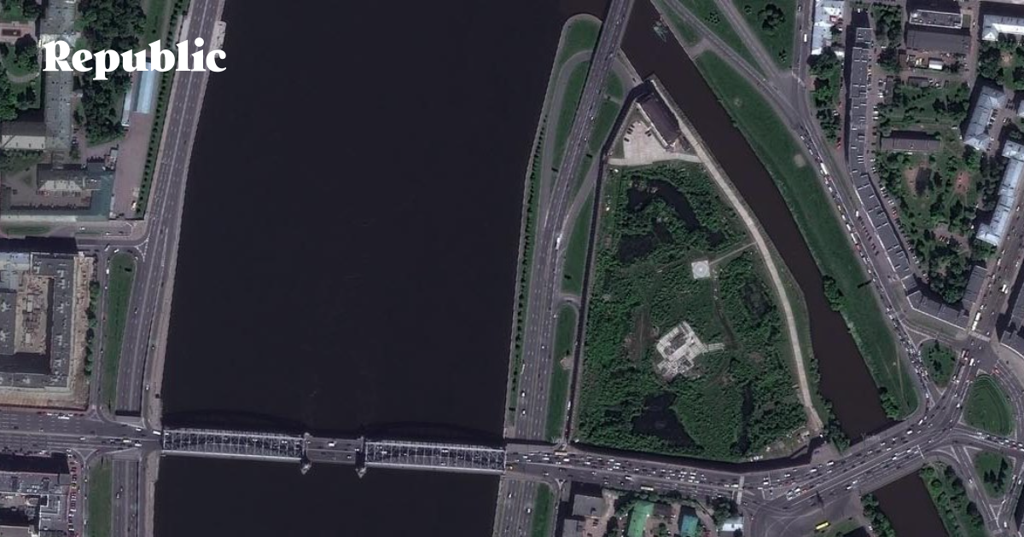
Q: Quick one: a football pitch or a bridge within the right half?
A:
bridge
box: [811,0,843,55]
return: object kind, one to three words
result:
house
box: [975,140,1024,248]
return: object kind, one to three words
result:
house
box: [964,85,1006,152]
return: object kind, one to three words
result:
building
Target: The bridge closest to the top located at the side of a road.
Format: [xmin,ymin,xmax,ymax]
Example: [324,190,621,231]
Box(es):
[555,0,637,177]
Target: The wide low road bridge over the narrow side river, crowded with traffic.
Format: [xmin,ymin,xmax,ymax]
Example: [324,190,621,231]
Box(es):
[841,404,930,494]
